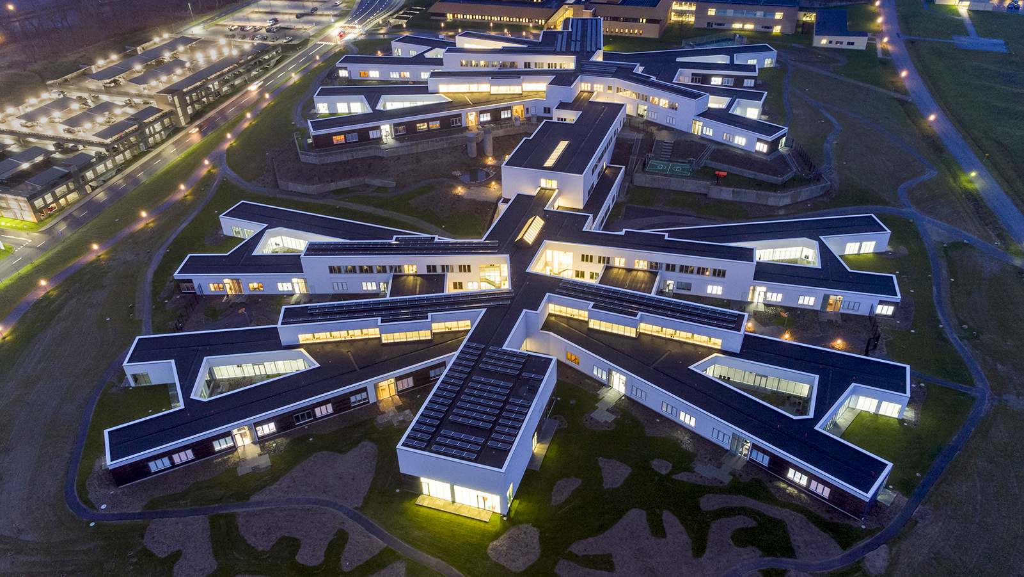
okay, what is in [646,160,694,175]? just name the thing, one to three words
sports court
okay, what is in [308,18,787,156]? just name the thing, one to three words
building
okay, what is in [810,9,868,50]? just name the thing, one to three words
house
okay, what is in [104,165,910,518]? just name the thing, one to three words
building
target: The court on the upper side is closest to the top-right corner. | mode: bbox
[683,30,747,49]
